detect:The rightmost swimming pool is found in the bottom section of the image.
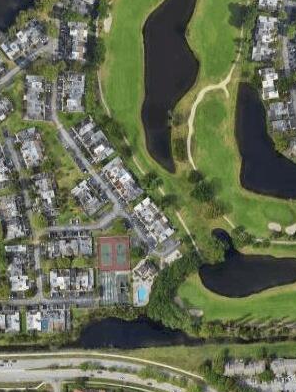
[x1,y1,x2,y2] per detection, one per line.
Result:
[133,277,153,308]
